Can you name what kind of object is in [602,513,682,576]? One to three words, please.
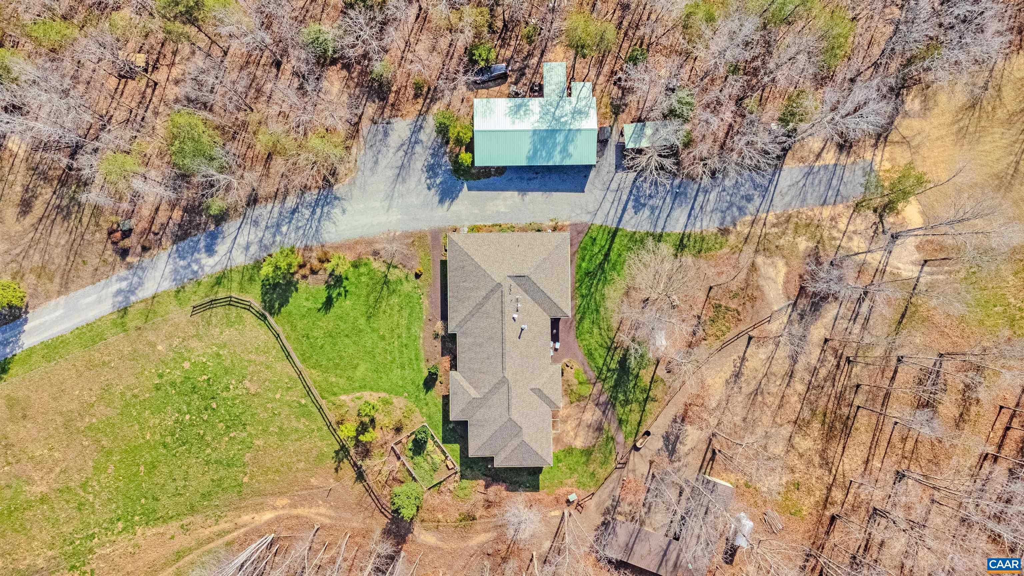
barn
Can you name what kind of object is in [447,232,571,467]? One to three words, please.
house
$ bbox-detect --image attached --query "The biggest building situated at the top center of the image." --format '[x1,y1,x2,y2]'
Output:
[473,98,598,169]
